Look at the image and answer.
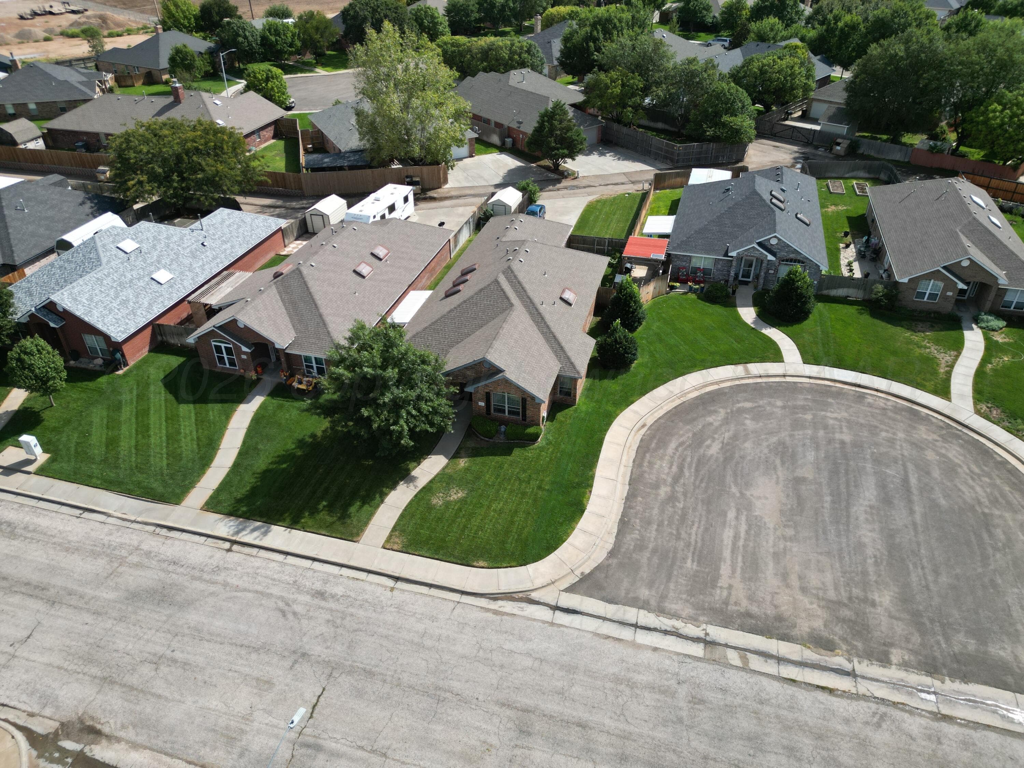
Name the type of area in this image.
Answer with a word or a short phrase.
residential area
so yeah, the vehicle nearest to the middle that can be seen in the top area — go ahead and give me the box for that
[523,197,555,218]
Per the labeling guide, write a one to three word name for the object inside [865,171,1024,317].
house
